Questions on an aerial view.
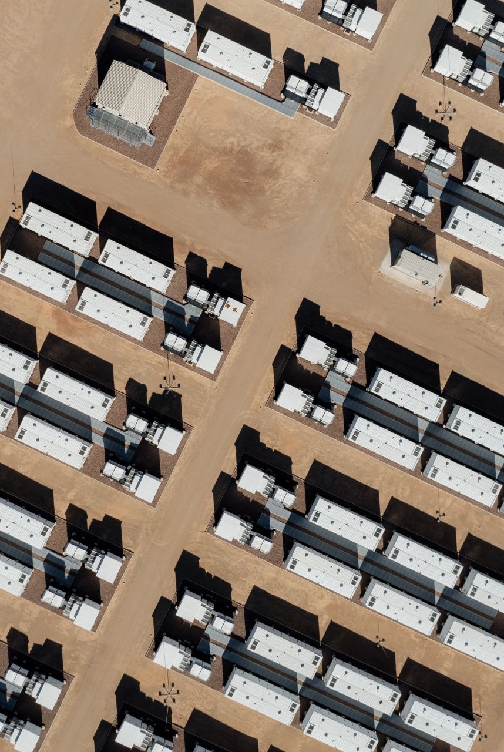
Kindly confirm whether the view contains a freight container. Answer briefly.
Yes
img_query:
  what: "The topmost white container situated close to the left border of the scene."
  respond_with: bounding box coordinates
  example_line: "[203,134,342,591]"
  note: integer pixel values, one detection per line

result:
[21,203,100,258]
